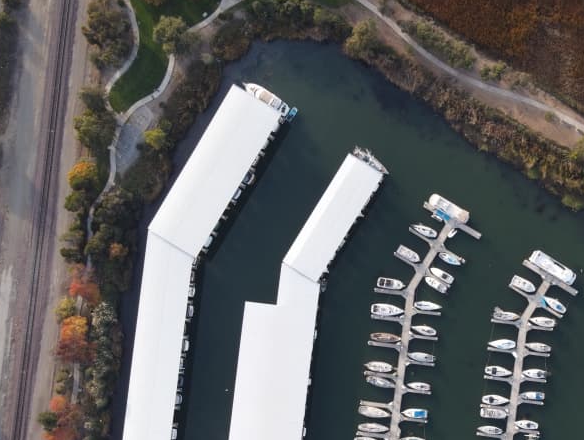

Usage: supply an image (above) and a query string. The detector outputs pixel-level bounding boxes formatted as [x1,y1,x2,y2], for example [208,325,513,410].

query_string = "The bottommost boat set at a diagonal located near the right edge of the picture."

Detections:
[545,297,567,315]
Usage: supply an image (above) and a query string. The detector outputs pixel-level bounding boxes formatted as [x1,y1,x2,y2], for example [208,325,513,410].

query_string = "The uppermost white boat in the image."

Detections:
[240,80,290,120]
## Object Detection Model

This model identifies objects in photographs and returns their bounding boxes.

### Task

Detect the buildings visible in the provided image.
[229,153,384,440]
[122,84,282,440]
